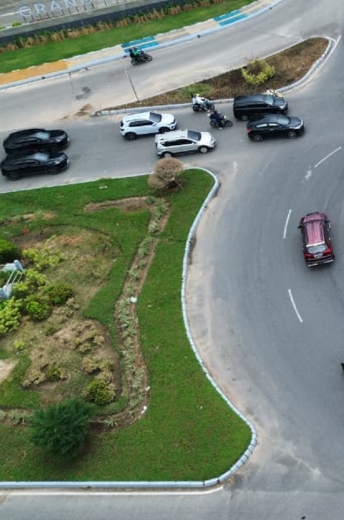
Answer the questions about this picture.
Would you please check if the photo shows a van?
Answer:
Yes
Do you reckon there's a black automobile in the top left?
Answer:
Yes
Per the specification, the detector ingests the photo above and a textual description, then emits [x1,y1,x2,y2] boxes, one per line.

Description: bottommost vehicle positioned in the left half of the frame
[0,148,67,180]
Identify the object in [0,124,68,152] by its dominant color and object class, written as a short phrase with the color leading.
black car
